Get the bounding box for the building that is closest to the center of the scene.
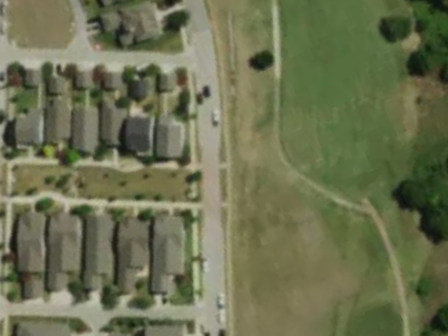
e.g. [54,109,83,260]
[158,117,188,159]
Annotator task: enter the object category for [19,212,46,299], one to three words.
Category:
house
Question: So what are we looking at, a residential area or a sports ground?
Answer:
residential area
